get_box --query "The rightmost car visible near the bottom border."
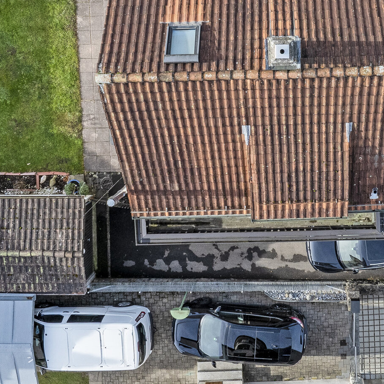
[170,307,308,382]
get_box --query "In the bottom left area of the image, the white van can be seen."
[33,309,155,382]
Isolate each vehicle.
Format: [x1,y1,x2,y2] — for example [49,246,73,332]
[170,307,308,382]
[33,309,155,382]
[303,238,384,281]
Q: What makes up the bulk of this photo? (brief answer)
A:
buildings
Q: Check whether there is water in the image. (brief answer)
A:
No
